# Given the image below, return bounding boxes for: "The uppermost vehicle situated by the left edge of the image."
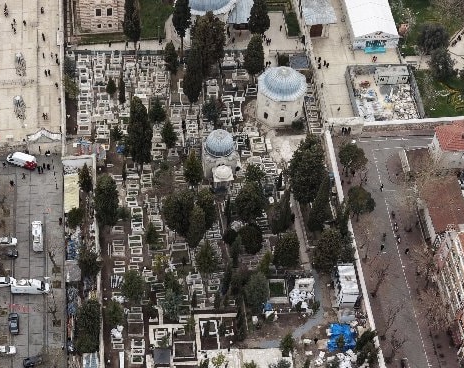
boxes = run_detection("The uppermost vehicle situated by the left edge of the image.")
[7,150,38,167]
